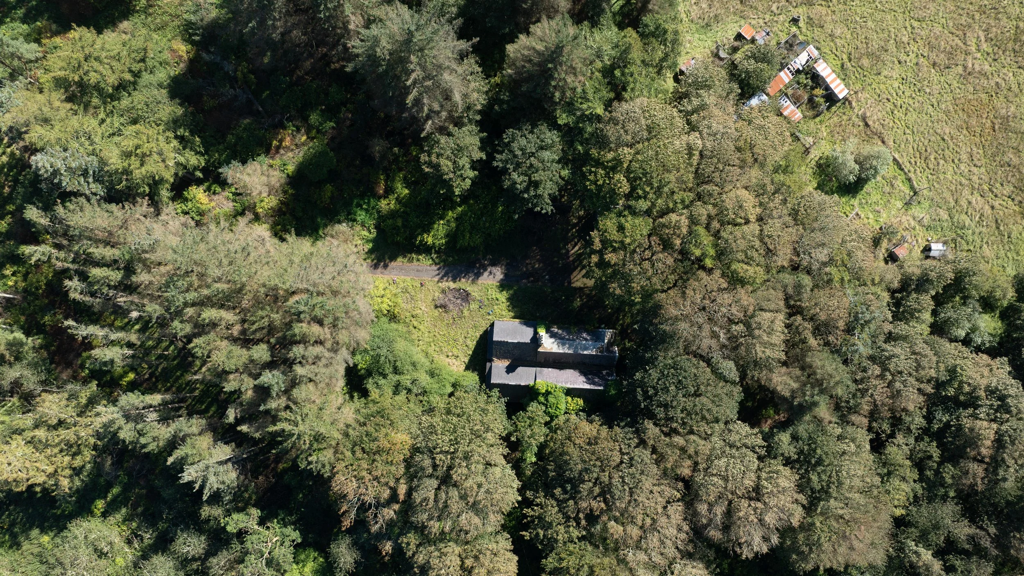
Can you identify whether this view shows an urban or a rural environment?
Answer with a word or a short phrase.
rural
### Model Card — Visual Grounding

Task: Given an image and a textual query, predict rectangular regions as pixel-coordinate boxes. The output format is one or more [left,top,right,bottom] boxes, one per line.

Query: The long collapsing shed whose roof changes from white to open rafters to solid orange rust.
[765,45,818,100]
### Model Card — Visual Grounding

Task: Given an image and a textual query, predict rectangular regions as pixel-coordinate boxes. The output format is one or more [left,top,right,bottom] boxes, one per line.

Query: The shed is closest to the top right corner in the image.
[811,59,849,101]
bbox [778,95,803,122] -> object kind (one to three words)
shed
